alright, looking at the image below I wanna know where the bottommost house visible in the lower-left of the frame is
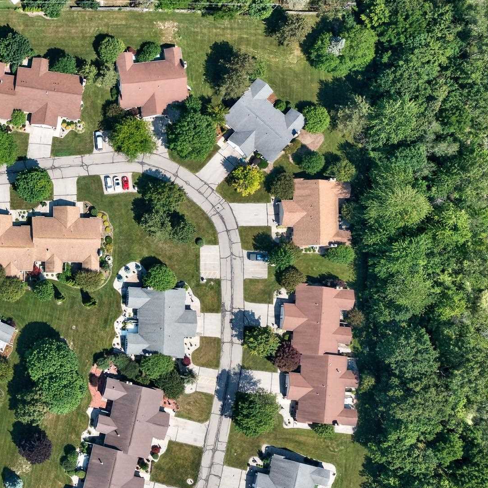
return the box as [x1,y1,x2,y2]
[83,378,171,488]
